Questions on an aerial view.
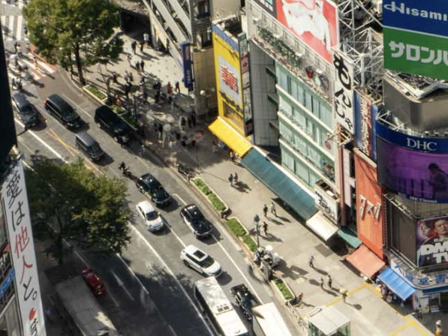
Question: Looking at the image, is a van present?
Yes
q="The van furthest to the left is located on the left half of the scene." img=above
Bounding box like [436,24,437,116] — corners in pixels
[10,91,40,131]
